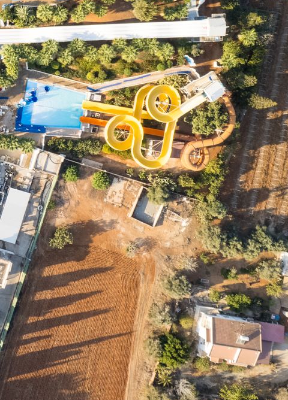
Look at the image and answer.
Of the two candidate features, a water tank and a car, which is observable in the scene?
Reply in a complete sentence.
I can see a water tank in this picture.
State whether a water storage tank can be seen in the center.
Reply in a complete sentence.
Yes, looking in the center, one can make out a water storage tank.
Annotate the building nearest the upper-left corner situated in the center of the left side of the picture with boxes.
[31,150,65,175]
